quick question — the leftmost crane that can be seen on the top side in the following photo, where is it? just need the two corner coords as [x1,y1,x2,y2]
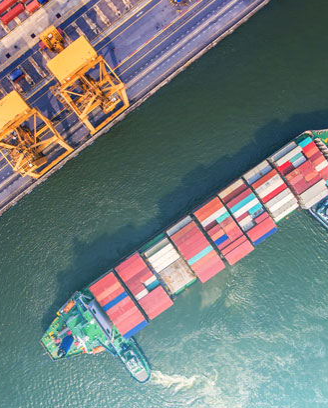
[0,88,84,189]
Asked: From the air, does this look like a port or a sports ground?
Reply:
port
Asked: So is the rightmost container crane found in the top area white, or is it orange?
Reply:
orange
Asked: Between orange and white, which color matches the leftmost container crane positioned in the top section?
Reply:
orange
